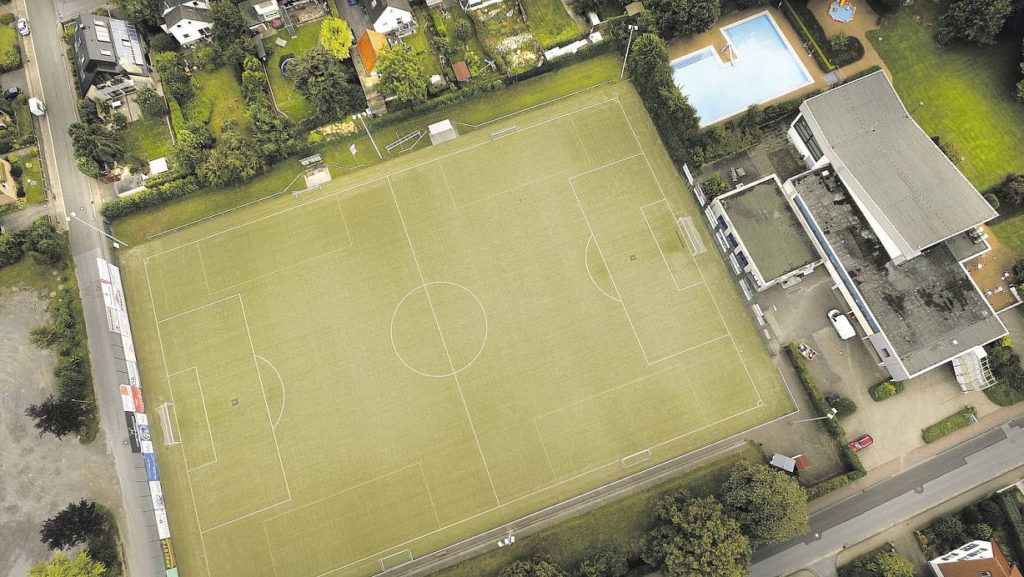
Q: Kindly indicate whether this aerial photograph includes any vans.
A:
Yes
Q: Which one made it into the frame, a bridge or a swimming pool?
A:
swimming pool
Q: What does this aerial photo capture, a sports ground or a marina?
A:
sports ground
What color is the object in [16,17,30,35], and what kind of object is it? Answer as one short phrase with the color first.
white car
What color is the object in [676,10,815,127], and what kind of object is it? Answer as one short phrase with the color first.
white swimming pool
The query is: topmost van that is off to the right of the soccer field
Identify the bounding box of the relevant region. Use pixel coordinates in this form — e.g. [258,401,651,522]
[827,311,859,342]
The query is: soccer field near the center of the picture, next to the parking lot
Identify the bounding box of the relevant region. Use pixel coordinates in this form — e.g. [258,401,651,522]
[118,77,796,577]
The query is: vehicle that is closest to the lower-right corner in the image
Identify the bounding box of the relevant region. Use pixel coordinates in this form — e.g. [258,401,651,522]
[850,434,876,451]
